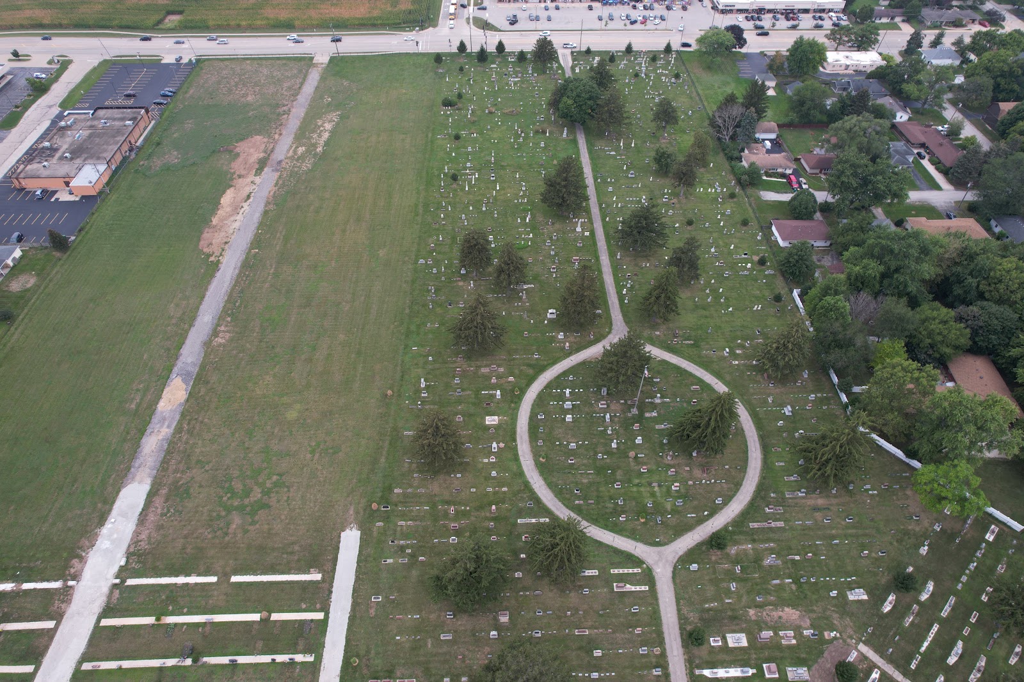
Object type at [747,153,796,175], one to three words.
house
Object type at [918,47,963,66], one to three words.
house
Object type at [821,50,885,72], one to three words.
building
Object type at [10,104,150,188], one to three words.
building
